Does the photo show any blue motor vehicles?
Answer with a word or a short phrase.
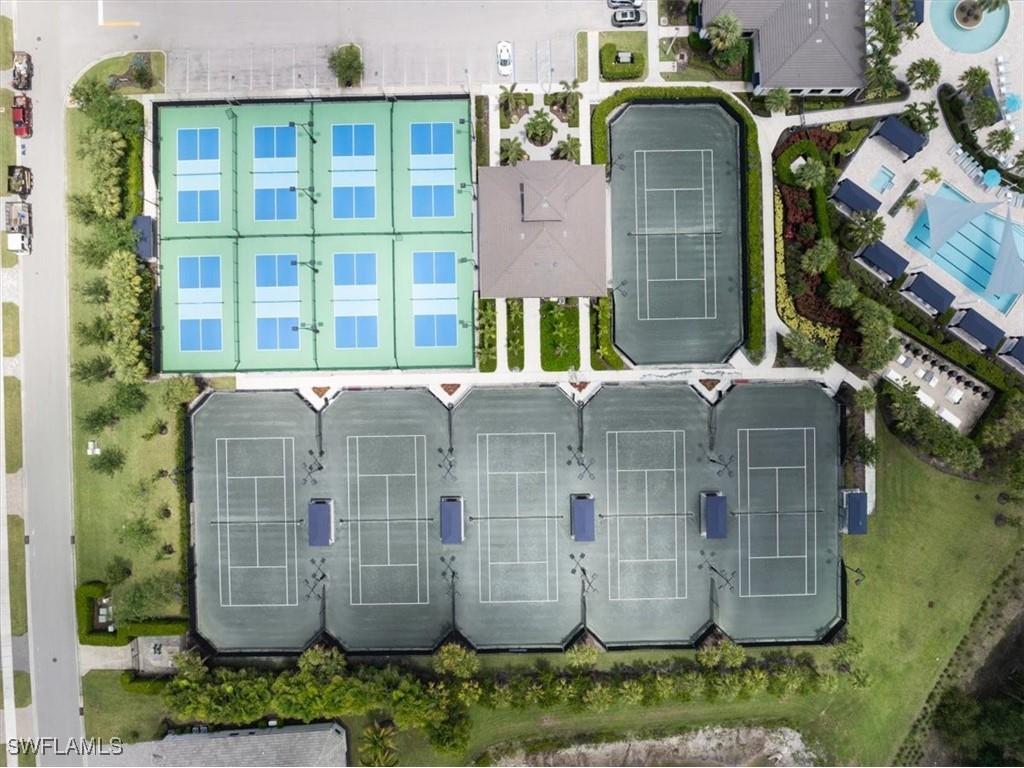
No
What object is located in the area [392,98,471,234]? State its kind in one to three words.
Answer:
sports court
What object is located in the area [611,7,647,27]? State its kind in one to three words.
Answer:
car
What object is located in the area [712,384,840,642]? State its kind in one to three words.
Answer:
tennis court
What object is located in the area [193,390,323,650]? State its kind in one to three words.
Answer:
tennis court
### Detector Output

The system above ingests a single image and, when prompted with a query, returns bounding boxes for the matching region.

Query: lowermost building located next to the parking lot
[477,160,607,299]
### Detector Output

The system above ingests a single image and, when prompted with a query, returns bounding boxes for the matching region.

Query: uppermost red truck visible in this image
[11,94,33,138]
